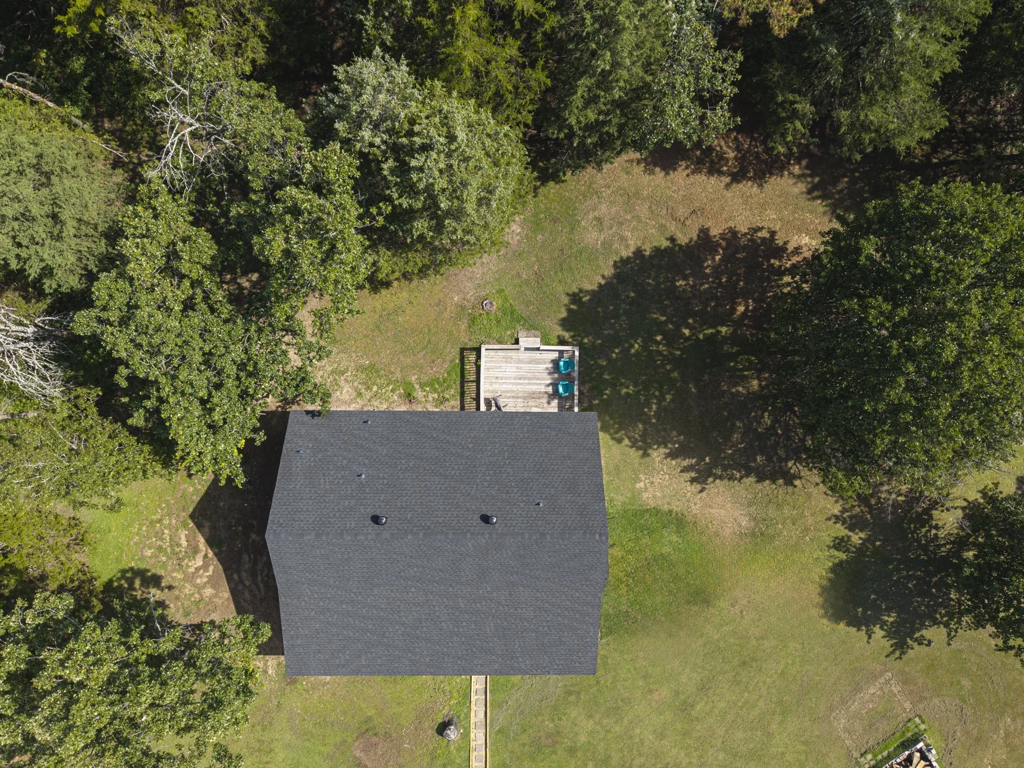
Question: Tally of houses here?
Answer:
1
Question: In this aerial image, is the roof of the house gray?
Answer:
Yes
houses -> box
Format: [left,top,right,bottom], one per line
[265,411,609,675]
